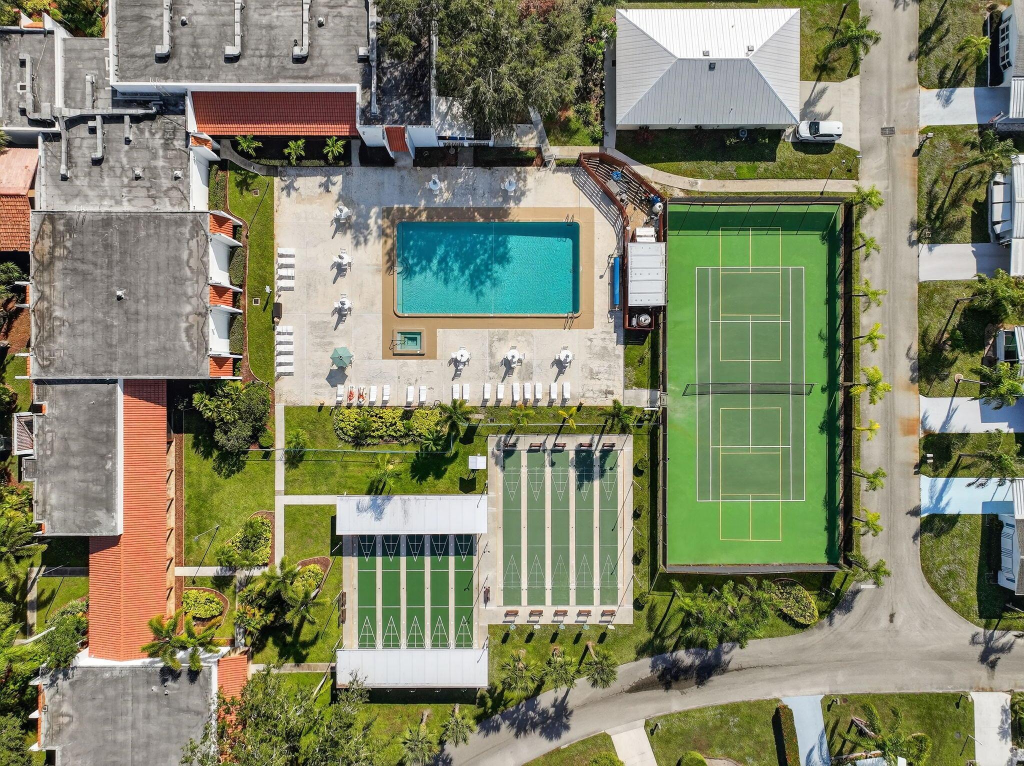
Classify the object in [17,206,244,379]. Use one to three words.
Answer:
building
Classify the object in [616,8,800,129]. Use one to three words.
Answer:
house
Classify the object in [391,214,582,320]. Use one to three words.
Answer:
swimming pool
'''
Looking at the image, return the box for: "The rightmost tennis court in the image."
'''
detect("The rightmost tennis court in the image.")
[666,203,841,565]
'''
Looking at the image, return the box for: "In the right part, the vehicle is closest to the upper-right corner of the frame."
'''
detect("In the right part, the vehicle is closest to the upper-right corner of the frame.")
[792,119,843,144]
